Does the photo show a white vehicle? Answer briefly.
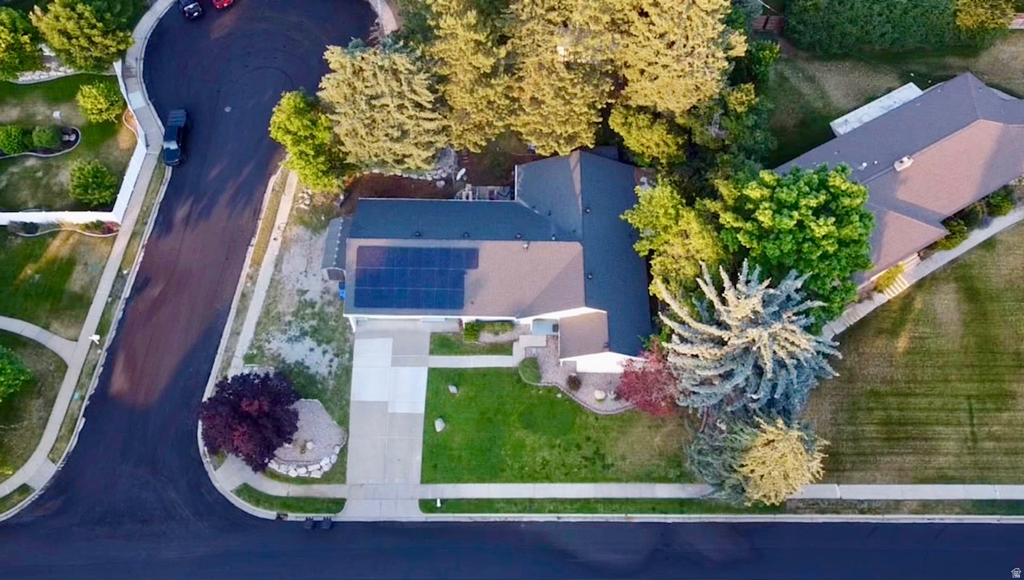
No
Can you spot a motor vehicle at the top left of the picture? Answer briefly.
Yes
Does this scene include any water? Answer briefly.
No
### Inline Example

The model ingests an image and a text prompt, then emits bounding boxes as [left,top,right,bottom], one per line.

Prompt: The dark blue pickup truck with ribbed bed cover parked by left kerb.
[161,112,193,165]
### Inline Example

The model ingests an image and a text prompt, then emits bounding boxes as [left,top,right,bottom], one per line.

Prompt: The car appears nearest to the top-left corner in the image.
[179,0,203,20]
